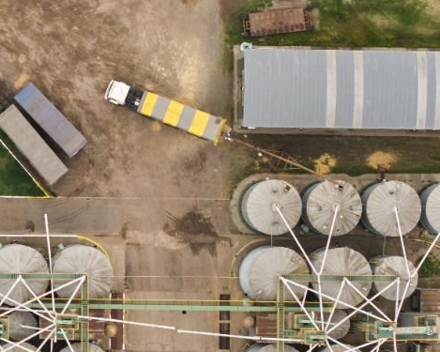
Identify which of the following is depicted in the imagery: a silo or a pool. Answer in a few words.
silo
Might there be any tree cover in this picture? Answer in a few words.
No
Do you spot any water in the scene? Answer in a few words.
No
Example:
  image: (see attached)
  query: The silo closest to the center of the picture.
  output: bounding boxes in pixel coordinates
[238,178,302,237]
